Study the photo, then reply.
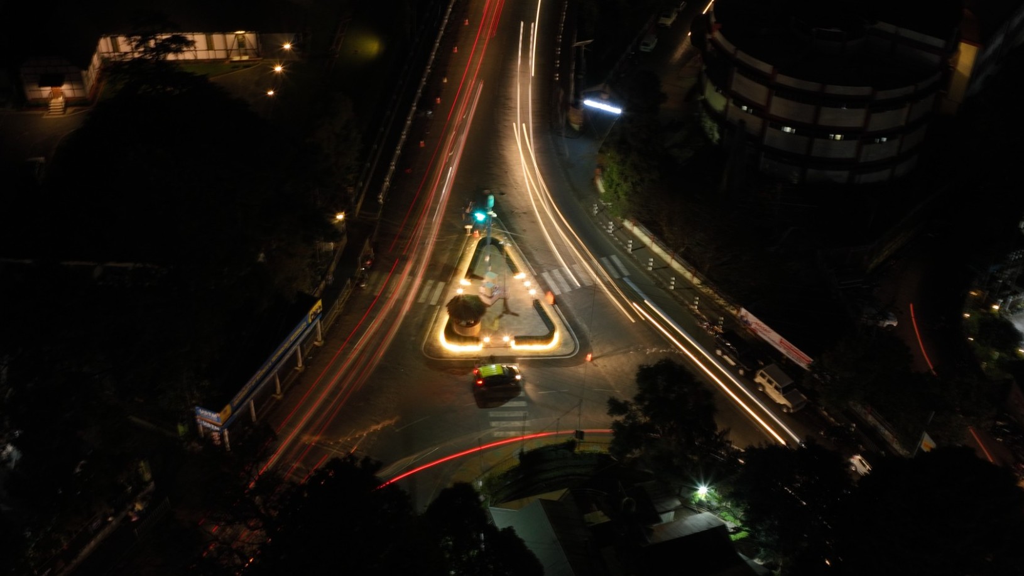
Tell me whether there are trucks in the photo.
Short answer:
No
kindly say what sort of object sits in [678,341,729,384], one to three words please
car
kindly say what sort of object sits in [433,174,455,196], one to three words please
car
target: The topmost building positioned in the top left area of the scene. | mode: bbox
[102,5,314,62]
